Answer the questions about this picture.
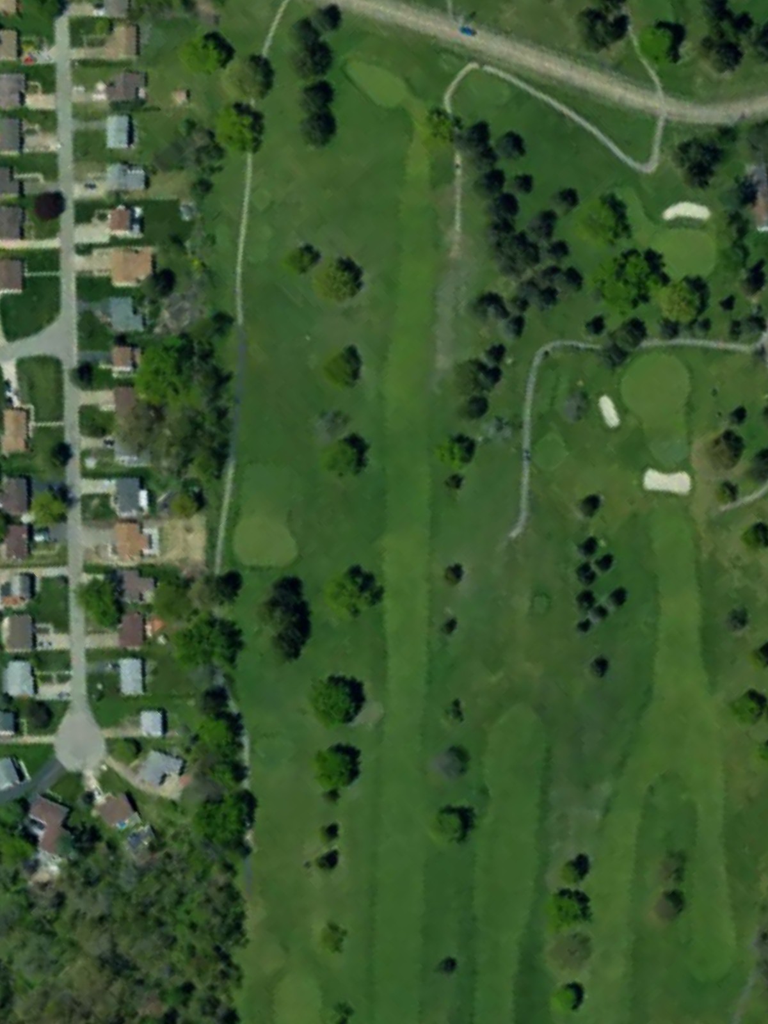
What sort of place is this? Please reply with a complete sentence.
This image shows a golf course.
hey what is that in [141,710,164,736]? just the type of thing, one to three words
house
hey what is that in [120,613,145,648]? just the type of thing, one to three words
house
